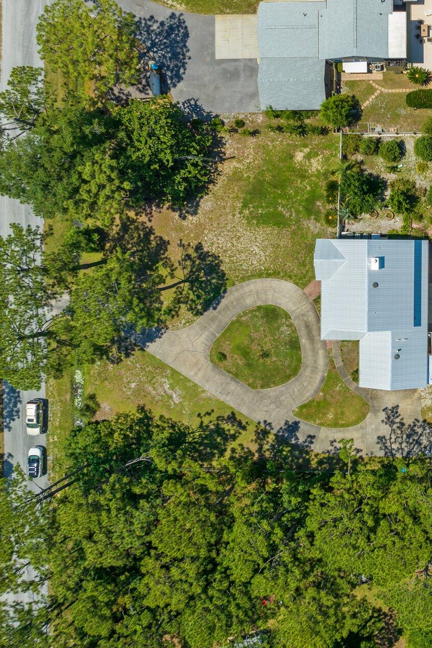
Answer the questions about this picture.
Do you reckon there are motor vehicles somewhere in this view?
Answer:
Yes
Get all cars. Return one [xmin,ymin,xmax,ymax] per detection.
[27,443,46,477]
[25,397,46,433]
